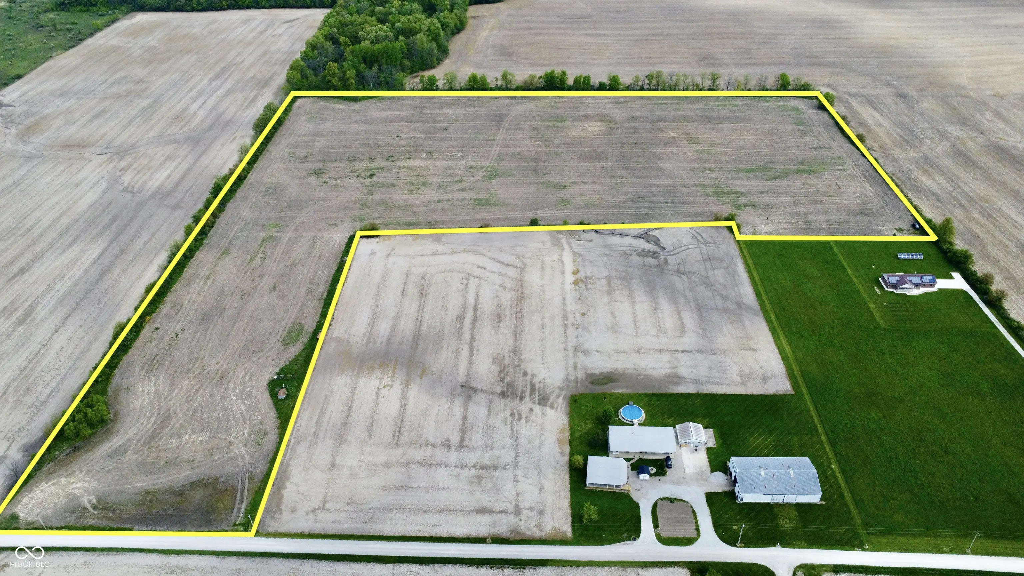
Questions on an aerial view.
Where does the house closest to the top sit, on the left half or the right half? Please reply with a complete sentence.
It is on the right.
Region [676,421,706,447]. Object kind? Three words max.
building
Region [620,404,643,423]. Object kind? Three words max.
swimming pool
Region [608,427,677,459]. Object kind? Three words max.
house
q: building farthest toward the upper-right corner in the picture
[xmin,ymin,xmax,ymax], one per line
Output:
[880,272,938,292]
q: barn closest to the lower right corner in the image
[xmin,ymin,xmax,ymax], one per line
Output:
[729,455,823,503]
